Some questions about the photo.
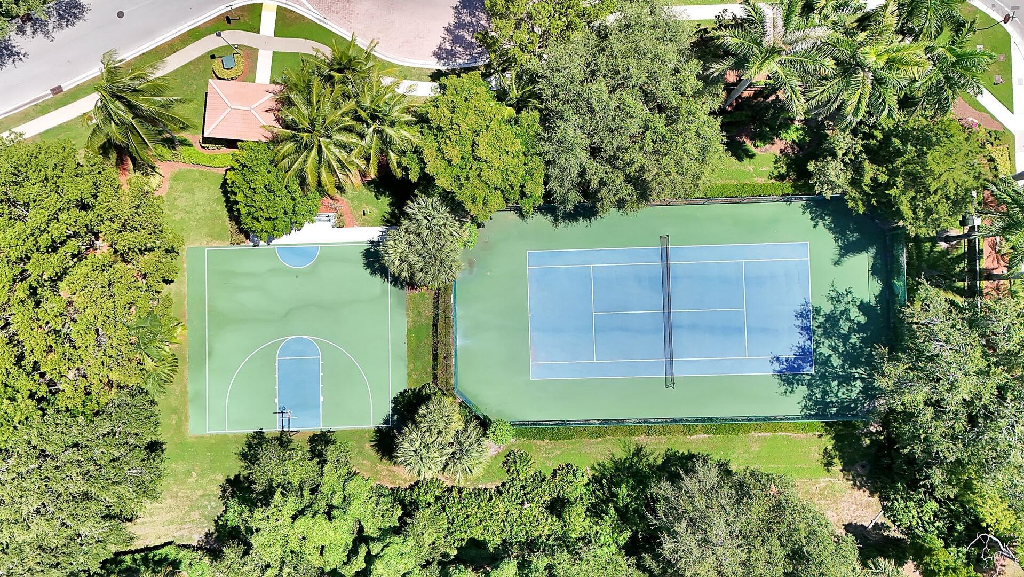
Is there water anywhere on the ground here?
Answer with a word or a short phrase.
No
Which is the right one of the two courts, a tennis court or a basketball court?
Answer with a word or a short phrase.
tennis court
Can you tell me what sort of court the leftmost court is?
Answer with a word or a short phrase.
basketball court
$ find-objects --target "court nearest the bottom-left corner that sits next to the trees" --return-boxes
[184,239,408,435]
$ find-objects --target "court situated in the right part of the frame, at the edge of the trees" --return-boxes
[454,201,886,423]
